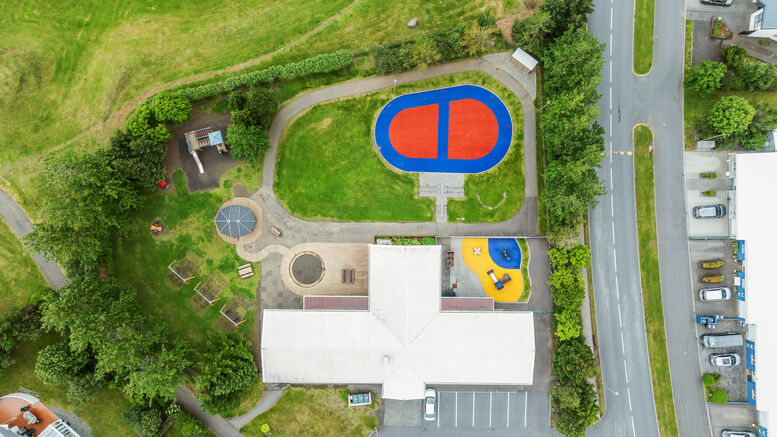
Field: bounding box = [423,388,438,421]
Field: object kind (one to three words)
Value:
car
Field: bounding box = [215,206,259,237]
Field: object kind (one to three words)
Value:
gazebo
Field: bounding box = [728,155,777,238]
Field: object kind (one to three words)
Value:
house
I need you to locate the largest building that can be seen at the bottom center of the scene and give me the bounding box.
[260,244,536,400]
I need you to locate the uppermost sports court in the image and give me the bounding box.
[374,84,513,173]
